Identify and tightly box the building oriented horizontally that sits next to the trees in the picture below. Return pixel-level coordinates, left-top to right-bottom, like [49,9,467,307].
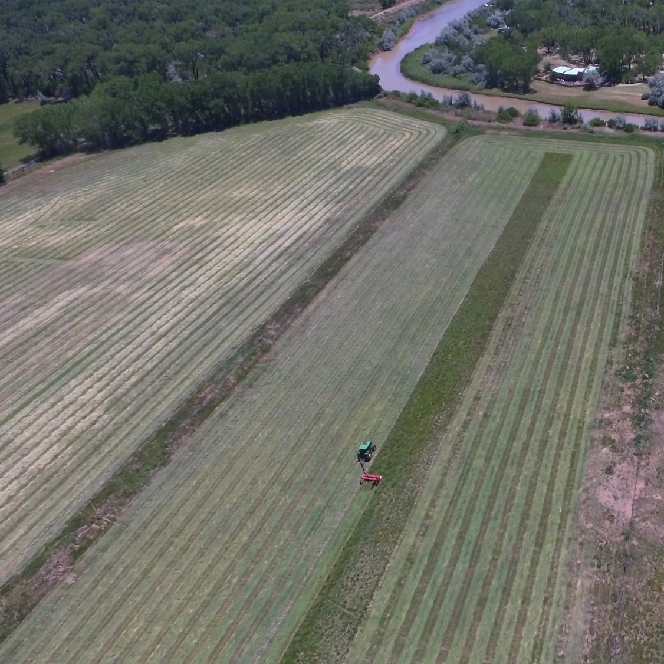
[553,66,600,83]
